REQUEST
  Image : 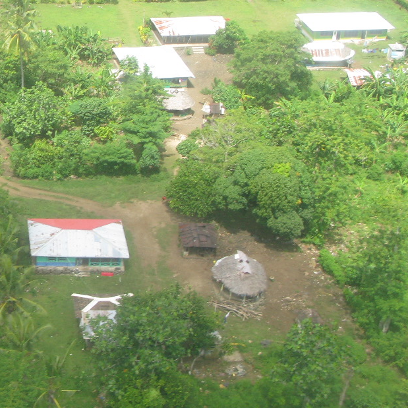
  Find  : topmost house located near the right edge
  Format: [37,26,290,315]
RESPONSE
[300,11,395,44]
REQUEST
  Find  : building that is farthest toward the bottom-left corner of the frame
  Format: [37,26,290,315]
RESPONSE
[75,293,140,346]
